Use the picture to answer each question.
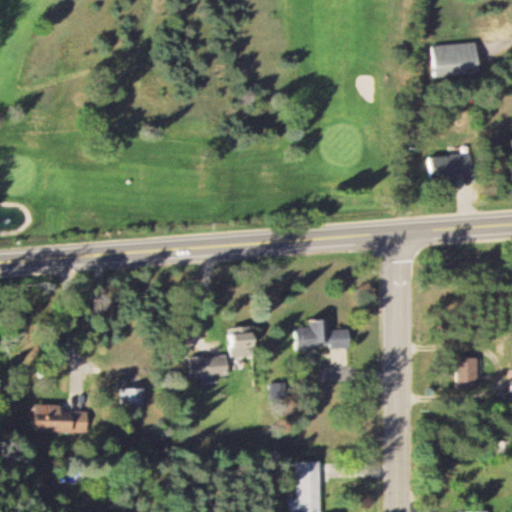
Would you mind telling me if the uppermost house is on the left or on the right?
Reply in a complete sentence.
The uppermost house is on the right side of the image.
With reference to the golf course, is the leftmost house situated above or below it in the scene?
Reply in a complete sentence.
As seen from overhead, the leftmost house falls below the golf course in the picture.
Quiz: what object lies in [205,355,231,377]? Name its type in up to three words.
building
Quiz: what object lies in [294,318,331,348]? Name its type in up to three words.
house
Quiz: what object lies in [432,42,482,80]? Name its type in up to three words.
house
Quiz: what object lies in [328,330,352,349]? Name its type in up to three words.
building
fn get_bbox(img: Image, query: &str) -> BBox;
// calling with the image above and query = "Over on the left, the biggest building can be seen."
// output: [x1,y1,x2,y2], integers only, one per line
[34,402,91,434]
